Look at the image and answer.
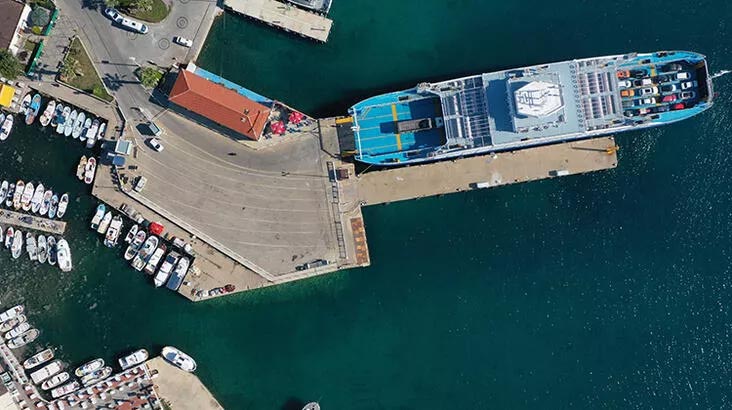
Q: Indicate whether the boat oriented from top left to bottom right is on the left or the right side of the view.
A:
left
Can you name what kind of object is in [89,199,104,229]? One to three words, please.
boat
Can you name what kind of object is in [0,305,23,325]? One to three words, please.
boat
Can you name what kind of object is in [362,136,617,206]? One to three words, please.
pier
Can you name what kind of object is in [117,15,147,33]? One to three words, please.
vehicle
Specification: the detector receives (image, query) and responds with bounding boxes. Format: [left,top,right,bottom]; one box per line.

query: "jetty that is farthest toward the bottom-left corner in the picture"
[0,209,68,234]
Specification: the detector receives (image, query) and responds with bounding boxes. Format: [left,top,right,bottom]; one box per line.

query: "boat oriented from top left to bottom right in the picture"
[159,346,197,374]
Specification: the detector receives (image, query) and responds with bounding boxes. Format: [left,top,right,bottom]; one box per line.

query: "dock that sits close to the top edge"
[223,0,332,43]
